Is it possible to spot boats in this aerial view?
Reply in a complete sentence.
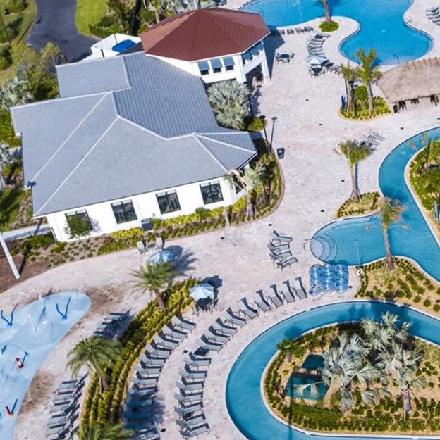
No, there appears to be no boat in this shot.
